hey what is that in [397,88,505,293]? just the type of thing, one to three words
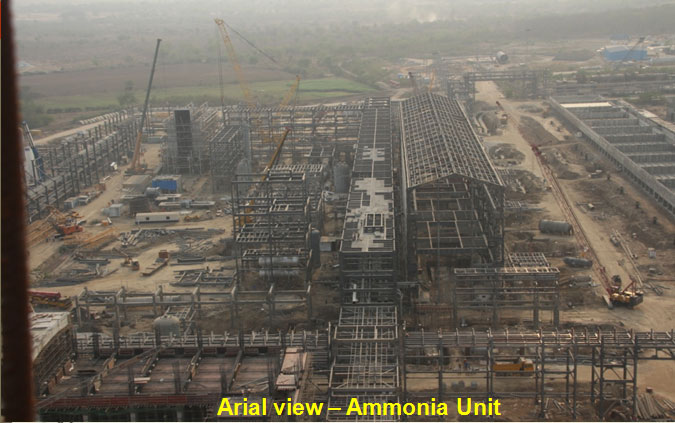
shed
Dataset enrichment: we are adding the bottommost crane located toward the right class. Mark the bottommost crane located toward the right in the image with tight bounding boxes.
[532,141,648,304]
